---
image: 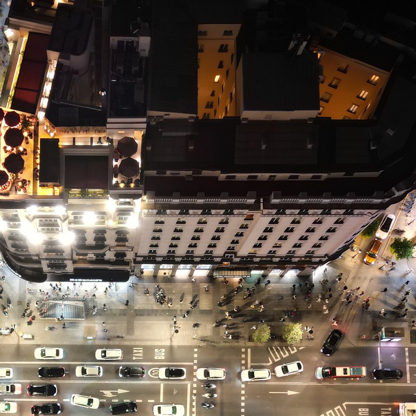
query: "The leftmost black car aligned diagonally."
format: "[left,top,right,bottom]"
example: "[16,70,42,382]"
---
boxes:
[319,328,343,358]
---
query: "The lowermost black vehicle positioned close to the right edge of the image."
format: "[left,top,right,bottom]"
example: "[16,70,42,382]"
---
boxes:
[371,368,403,381]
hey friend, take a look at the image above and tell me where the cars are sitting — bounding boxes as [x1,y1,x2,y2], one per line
[375,215,394,242]
[95,348,123,361]
[154,404,183,416]
[37,365,66,379]
[31,402,61,416]
[196,368,226,381]
[0,401,18,414]
[118,365,147,379]
[28,383,57,397]
[157,366,187,381]
[34,347,64,361]
[273,360,305,379]
[108,401,138,416]
[0,383,25,396]
[371,368,403,381]
[319,328,343,358]
[75,364,103,379]
[241,369,271,382]
[69,394,100,410]
[363,237,382,266]
[0,368,14,380]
